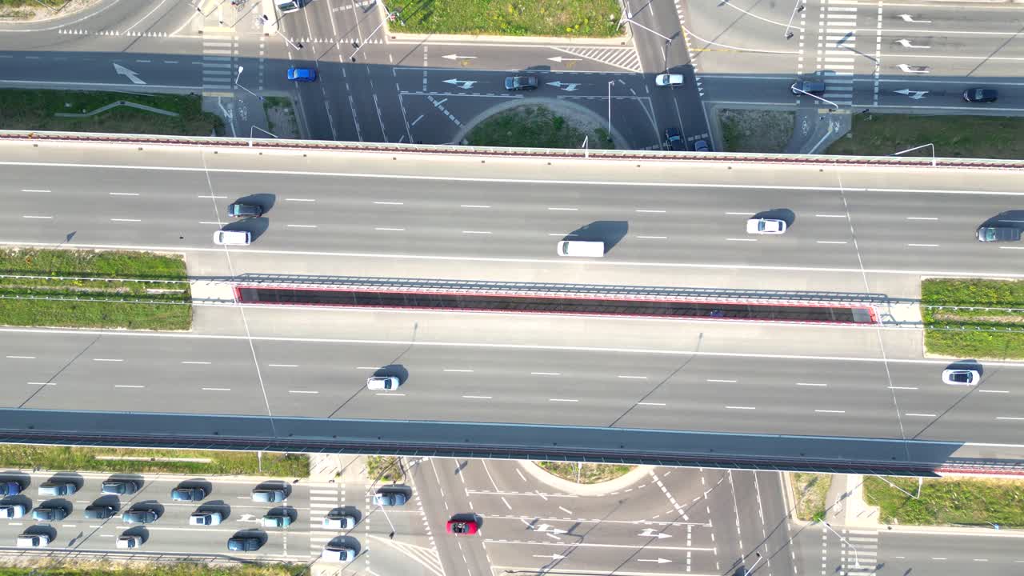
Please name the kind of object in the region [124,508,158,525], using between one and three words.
car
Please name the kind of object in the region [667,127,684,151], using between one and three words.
car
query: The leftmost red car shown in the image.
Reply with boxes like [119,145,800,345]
[447,519,477,536]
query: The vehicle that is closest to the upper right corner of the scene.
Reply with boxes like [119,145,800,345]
[961,87,998,103]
